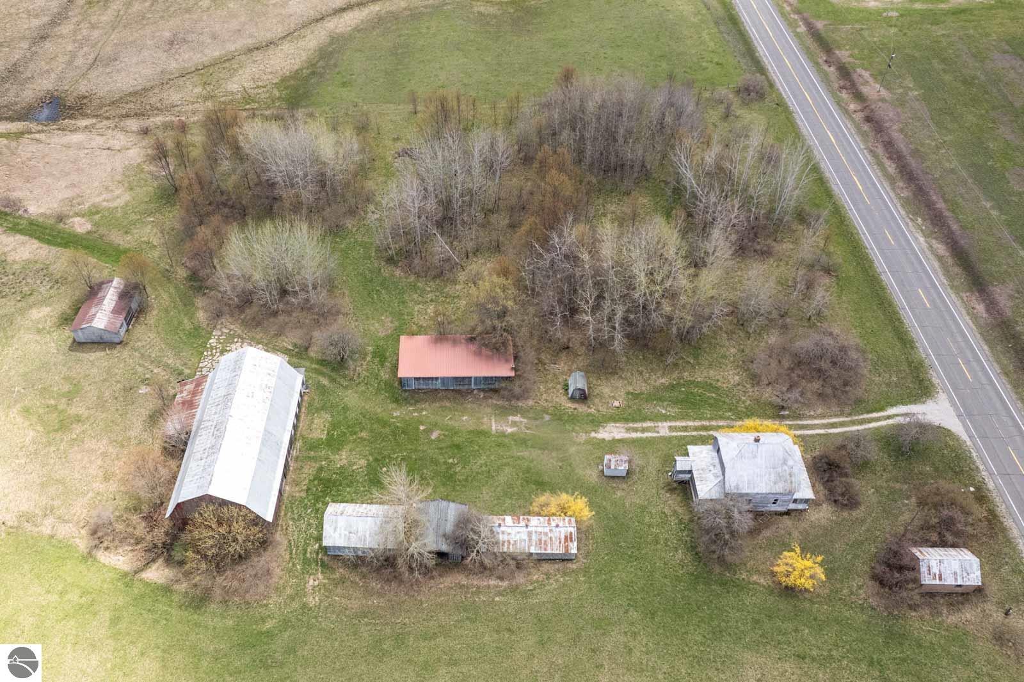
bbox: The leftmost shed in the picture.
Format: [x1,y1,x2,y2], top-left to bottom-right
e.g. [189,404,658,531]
[71,276,144,343]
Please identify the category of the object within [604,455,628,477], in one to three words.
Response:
shed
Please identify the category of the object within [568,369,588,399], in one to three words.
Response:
shed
